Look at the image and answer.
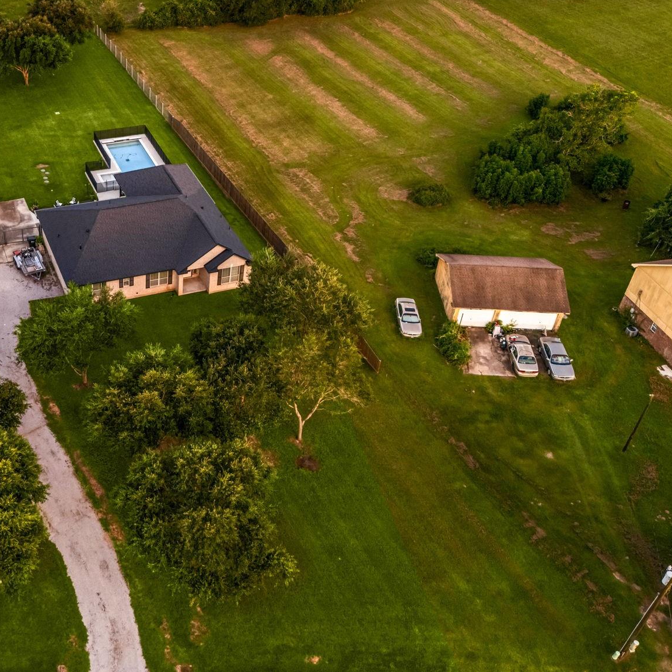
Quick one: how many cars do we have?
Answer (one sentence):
In total, there are 3 cars in the scene.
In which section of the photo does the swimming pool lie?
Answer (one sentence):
You can find the swimming pool in the top left area of the picture.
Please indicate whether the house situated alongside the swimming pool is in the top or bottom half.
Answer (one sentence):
The house situated alongside the swimming pool sits in the top half of the picture.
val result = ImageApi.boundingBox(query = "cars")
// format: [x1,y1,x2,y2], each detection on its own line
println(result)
[506,332,539,377]
[396,296,424,335]
[540,334,576,379]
